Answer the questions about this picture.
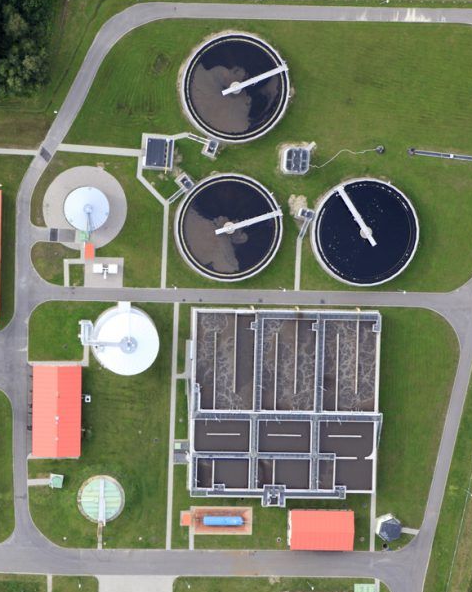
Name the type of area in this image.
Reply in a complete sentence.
This image shows an industrial area.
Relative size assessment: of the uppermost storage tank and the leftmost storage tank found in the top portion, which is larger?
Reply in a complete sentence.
Of the two, the uppermost storage tank is bigger, while the leftmost storage tank found in the top portion is smaller.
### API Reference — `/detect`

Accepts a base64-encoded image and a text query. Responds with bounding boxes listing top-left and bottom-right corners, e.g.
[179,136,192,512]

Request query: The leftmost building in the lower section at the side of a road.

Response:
[29,366,85,458]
